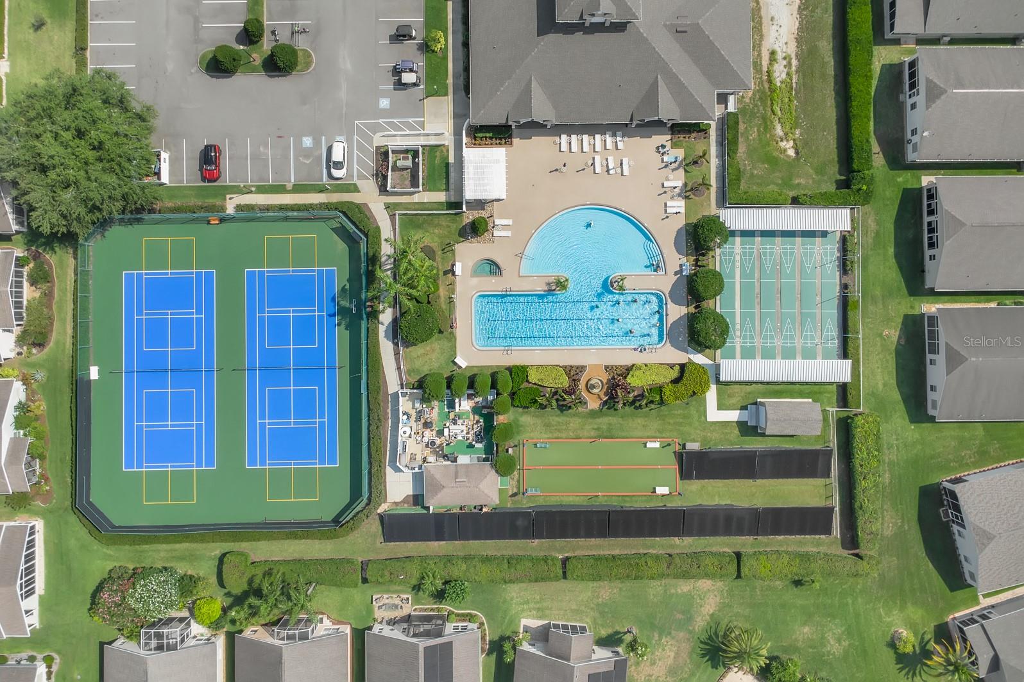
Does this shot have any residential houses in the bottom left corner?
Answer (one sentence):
Yes, you'll find a residential house in the bottom left corner.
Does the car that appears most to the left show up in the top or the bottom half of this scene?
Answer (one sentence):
It is in the top half that the car that appears most to the left appears.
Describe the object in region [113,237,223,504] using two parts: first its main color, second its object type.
blue tennis court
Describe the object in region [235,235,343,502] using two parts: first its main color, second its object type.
blue tennis court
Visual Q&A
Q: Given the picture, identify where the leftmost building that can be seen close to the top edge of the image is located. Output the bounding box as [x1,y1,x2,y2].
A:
[469,0,753,127]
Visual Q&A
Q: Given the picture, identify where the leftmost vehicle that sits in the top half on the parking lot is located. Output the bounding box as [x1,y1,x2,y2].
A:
[202,144,223,182]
